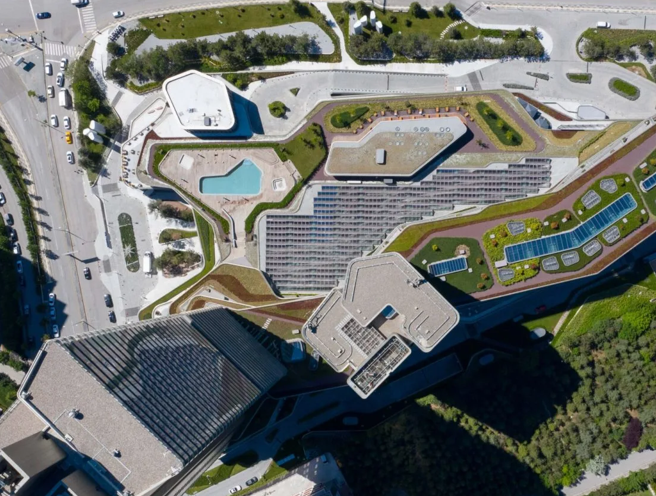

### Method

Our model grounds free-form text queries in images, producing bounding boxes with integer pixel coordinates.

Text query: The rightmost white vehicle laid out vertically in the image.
[141,254,154,279]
